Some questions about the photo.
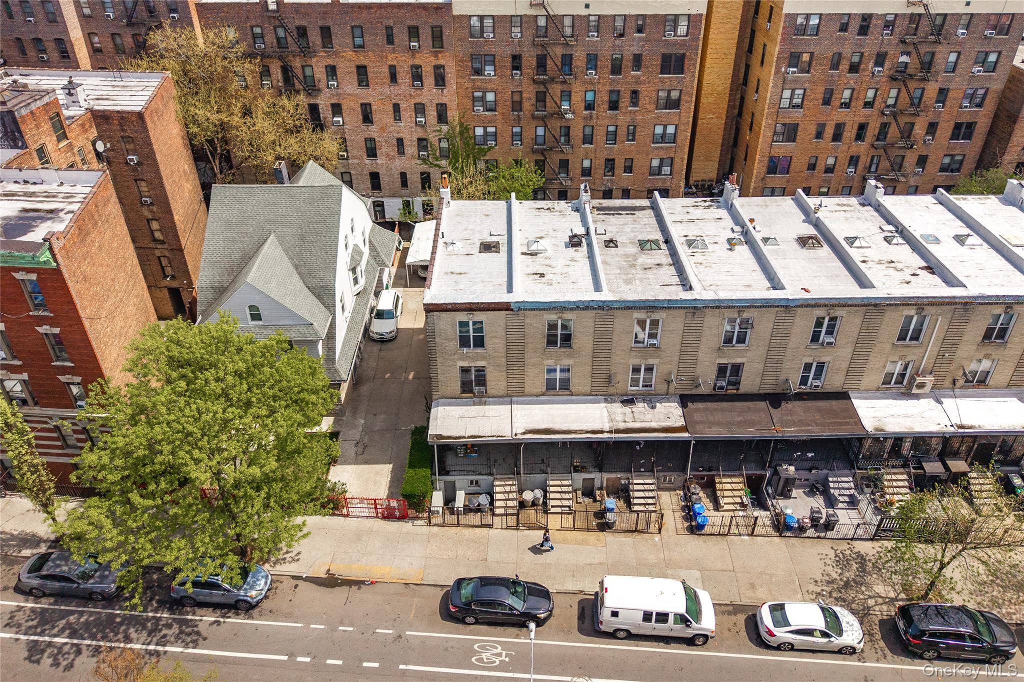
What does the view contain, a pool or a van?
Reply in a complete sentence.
The image shows a van.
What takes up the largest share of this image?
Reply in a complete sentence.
What you mostly see from above here is buildings.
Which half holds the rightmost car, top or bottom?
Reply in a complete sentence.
The rightmost car sits in the bottom half of the picture.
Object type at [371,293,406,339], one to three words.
car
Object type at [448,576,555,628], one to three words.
car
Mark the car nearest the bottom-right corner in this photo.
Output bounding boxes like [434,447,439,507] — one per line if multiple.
[897,603,1024,665]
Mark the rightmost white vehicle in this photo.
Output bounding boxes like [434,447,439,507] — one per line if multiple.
[759,602,871,655]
